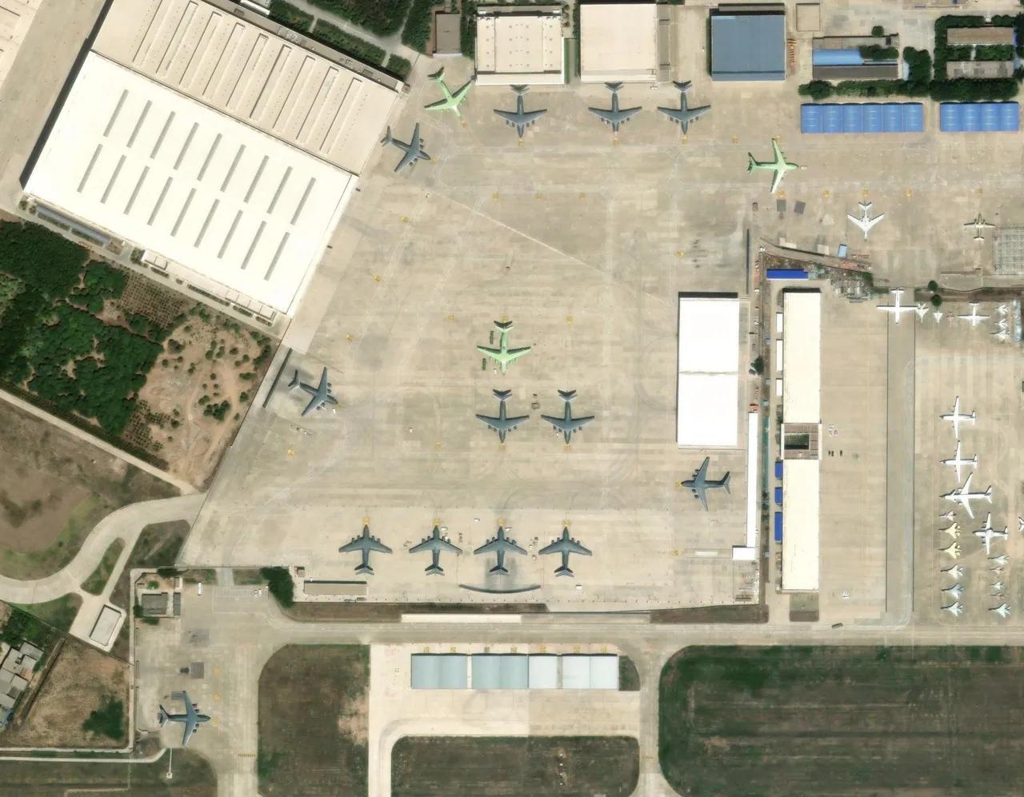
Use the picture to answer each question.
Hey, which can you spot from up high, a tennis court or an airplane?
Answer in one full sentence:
This aerial view contains an airplane.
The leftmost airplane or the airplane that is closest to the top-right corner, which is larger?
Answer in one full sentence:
Compared with the airplane that is closest to the top-right corner, the leftmost airplane is the larger one.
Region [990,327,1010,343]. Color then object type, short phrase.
white airplane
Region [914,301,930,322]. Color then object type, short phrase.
white airplane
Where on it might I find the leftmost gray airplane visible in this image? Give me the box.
[161,692,211,745]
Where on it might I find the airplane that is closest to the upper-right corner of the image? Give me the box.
[963,213,996,238]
